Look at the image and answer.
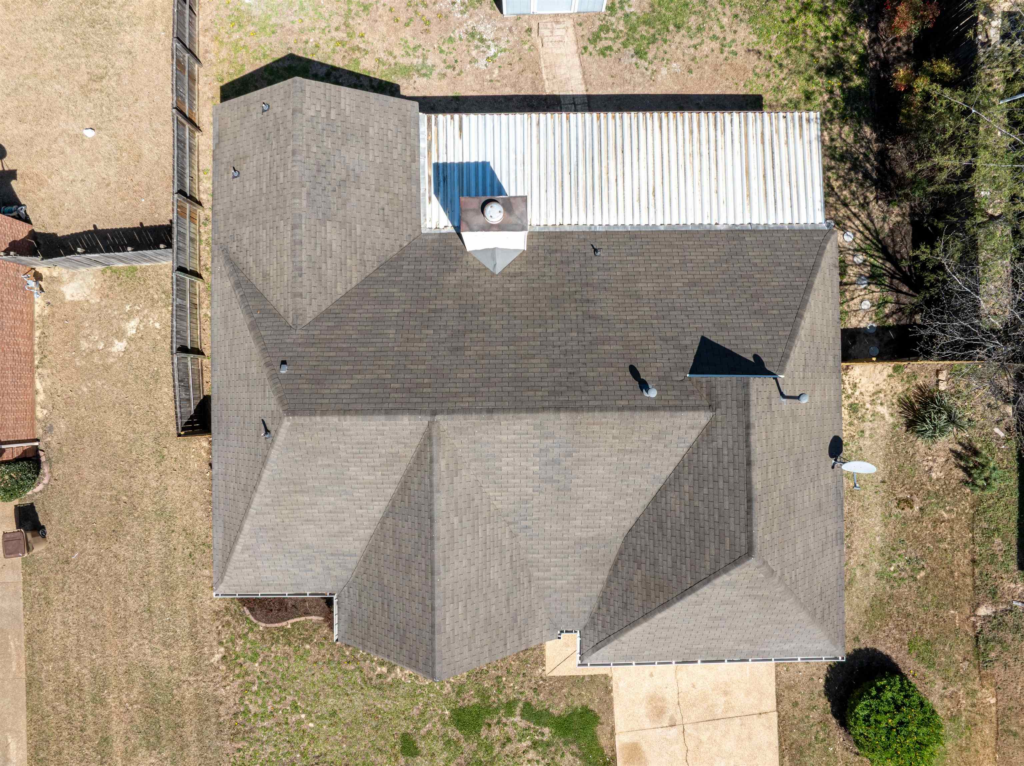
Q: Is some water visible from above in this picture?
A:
No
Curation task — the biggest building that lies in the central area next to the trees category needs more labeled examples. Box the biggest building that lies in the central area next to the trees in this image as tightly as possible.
[210,77,847,682]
